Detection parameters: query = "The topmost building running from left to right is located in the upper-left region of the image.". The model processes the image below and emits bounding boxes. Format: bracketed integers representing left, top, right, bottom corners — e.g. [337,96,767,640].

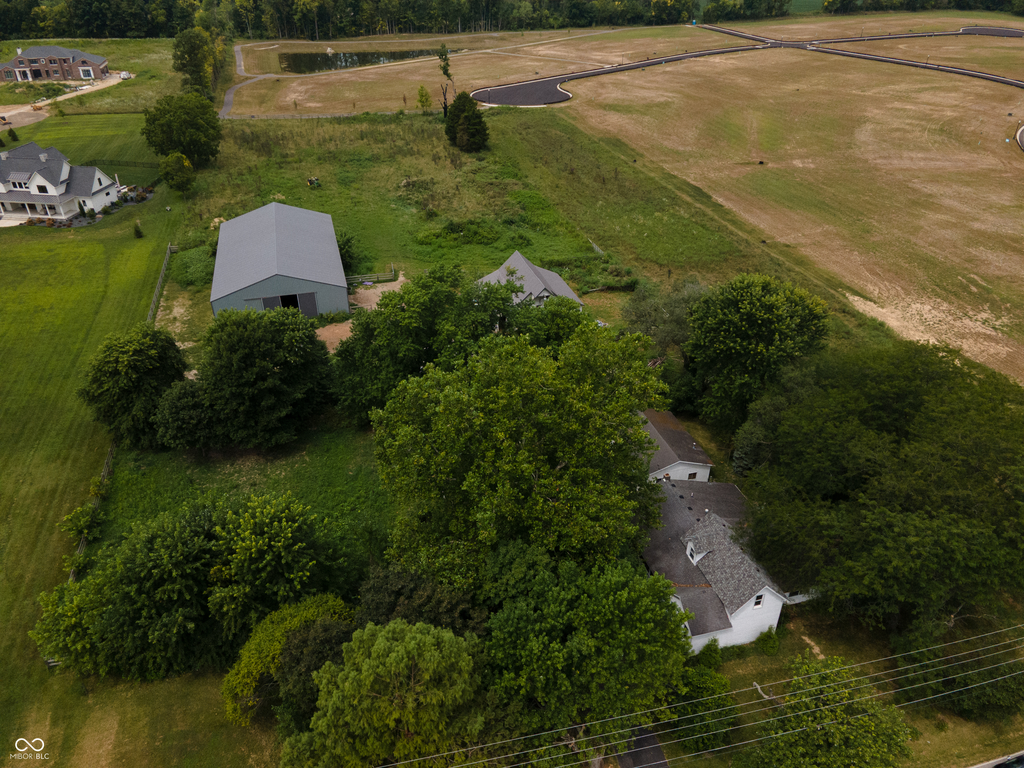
[0,41,119,82]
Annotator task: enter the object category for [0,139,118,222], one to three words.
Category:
house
